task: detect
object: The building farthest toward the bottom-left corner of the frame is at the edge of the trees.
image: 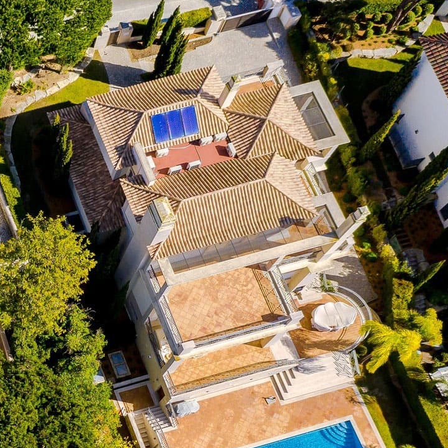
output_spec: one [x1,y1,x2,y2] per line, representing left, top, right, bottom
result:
[49,59,368,401]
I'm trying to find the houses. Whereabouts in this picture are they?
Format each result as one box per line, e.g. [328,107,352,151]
[393,30,448,236]
[49,59,368,401]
